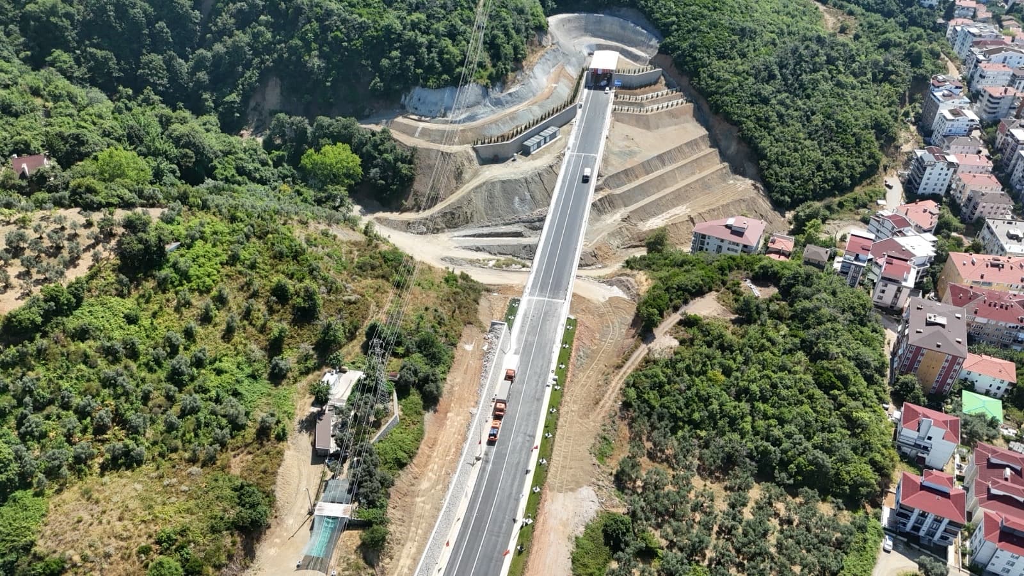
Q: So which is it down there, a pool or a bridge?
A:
bridge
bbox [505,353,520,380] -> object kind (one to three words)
vehicle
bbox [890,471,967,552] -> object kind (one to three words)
house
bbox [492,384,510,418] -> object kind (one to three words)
vehicle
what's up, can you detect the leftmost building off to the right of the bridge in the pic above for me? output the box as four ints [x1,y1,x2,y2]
[689,207,767,265]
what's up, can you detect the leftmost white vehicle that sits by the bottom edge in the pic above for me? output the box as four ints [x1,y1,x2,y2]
[883,534,896,553]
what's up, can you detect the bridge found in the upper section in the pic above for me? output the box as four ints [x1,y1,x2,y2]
[522,152,603,301]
